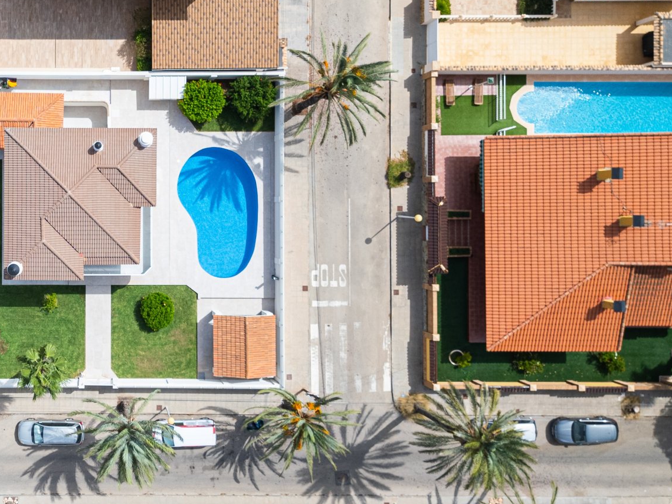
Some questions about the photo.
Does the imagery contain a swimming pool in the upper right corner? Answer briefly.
Yes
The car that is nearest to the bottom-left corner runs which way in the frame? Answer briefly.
horizontally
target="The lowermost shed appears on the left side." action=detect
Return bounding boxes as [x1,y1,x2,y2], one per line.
[198,306,277,380]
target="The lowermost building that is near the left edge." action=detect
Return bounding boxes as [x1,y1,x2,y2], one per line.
[1,125,158,285]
